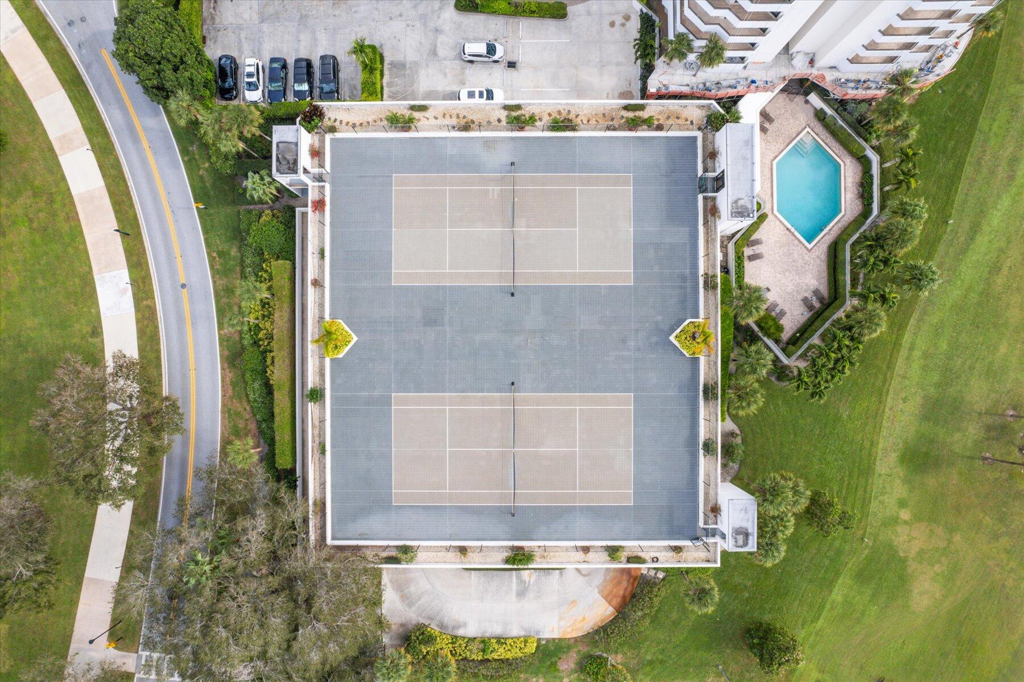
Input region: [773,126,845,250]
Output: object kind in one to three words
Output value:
swimming pool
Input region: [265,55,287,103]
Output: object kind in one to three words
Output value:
car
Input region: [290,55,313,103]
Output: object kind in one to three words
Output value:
car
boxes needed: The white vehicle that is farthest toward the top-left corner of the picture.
[240,55,263,102]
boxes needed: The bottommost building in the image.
[273,101,757,566]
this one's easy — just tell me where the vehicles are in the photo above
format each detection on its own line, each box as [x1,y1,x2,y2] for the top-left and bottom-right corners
[316,52,339,101]
[240,55,263,102]
[214,53,237,100]
[290,55,313,103]
[265,55,287,103]
[461,39,504,61]
[457,82,504,101]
